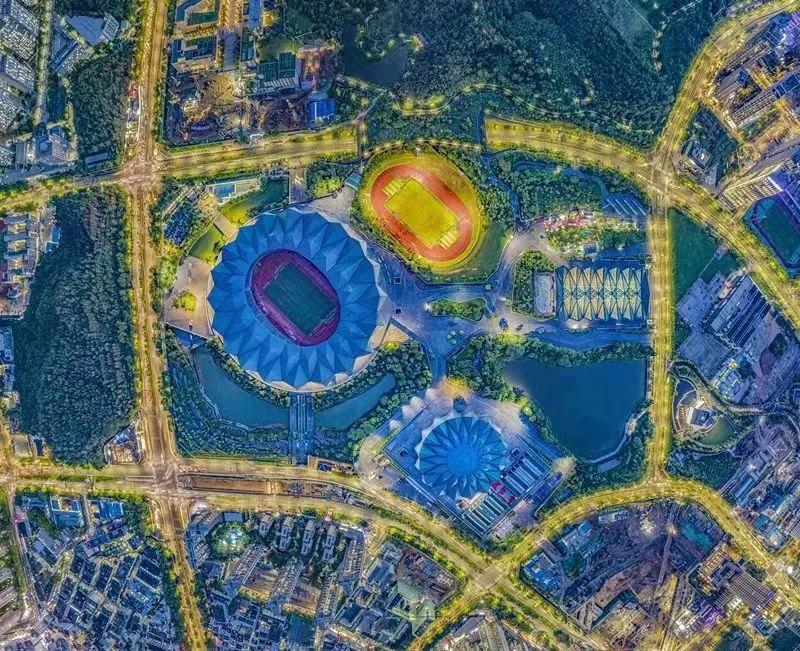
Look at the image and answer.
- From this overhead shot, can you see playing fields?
Yes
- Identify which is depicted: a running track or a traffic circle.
running track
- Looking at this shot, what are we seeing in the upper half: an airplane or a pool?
pool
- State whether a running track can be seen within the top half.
Yes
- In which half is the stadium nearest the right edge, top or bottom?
bottom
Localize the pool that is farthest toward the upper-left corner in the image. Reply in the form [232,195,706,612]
[203,178,259,204]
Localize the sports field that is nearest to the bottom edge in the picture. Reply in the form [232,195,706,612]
[252,252,345,346]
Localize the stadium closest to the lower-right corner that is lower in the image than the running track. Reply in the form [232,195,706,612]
[414,406,506,499]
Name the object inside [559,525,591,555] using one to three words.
building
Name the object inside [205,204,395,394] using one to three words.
stadium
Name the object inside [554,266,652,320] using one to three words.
building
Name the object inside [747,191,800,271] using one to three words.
sports field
